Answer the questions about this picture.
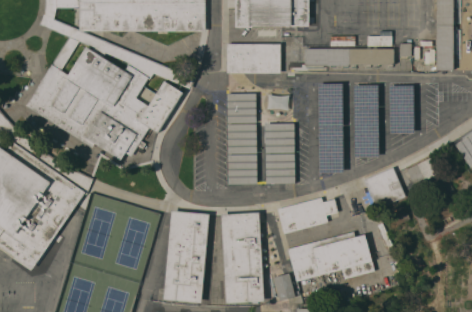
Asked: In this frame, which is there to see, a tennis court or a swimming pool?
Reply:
tennis court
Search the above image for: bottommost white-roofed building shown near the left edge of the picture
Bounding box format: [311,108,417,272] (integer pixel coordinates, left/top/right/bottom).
[0,142,84,270]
